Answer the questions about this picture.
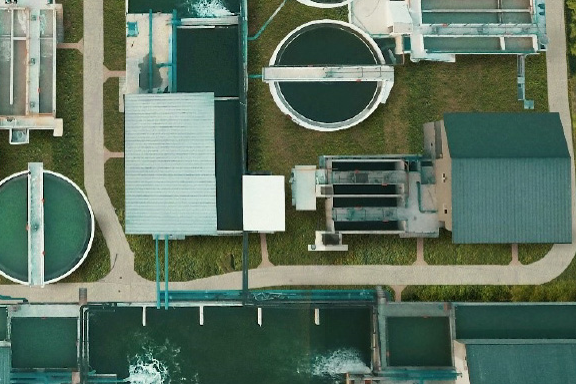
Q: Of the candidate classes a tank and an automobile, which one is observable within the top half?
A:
tank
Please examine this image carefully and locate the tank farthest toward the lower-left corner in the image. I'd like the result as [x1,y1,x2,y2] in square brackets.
[0,163,94,287]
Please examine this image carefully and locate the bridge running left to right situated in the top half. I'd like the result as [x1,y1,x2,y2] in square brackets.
[260,66,395,83]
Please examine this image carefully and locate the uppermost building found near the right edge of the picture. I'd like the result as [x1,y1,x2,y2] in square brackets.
[418,113,576,243]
